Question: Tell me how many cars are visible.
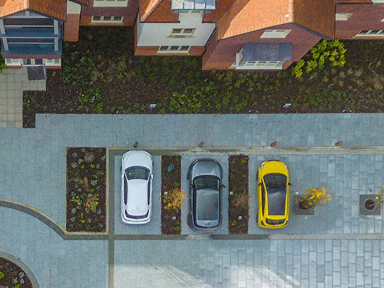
3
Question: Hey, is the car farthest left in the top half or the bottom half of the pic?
bottom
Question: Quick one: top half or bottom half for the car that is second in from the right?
bottom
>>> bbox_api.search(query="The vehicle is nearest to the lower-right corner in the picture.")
[254,161,294,228]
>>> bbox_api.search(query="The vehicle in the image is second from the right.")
[185,159,226,232]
